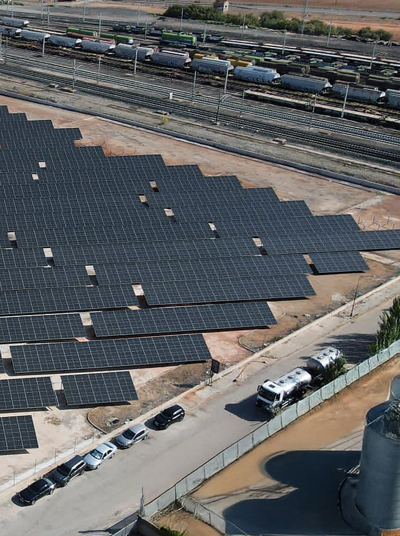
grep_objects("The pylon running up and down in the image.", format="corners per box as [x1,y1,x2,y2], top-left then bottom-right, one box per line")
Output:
[297,0,310,34]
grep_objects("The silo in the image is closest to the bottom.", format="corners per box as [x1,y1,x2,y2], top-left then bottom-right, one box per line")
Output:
[328,394,400,536]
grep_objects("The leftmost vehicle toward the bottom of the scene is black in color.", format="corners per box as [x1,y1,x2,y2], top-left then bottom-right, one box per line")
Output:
[18,481,57,508]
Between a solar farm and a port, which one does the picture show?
solar farm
